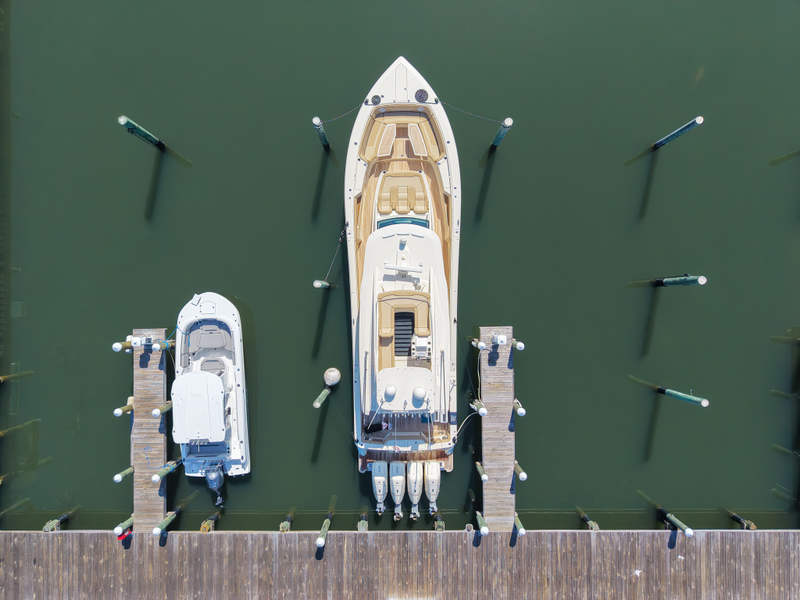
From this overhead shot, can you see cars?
No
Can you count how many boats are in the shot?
2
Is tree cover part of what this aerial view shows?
No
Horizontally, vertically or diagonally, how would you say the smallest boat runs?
vertically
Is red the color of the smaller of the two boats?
No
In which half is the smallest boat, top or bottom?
bottom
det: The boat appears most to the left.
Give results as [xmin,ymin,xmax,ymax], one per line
[172,291,252,502]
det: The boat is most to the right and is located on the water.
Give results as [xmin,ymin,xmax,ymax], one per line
[345,55,462,515]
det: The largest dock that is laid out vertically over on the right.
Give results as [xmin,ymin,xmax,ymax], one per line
[478,327,515,531]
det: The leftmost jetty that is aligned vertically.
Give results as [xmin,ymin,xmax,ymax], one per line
[132,330,170,531]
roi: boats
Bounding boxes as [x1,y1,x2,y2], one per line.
[172,291,252,502]
[345,55,462,515]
